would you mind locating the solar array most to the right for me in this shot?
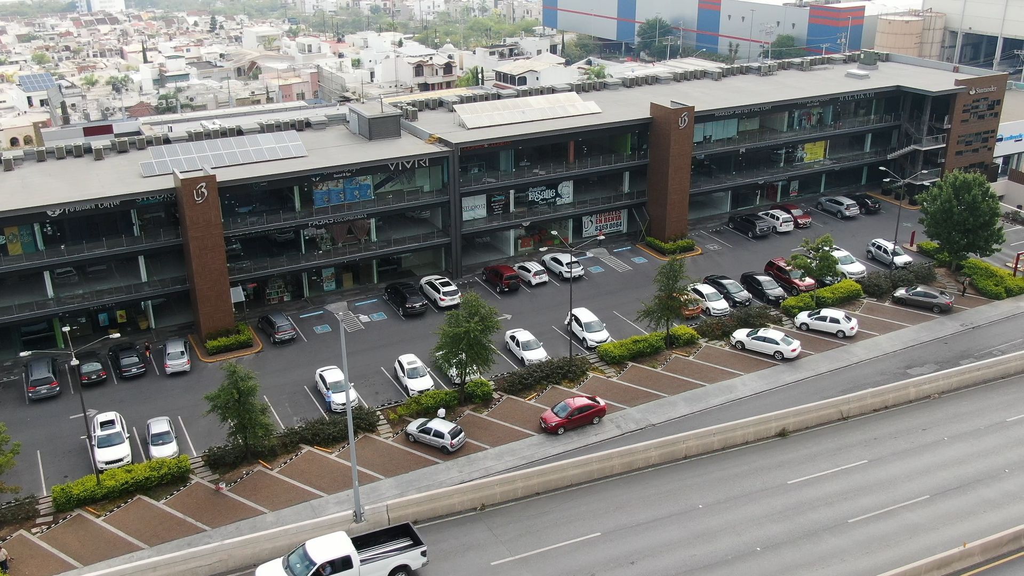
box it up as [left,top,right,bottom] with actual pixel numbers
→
[434,92,602,131]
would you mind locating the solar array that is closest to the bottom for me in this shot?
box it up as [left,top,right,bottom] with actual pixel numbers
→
[142,128,308,178]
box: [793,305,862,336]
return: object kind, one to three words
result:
car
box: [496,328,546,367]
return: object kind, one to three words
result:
car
